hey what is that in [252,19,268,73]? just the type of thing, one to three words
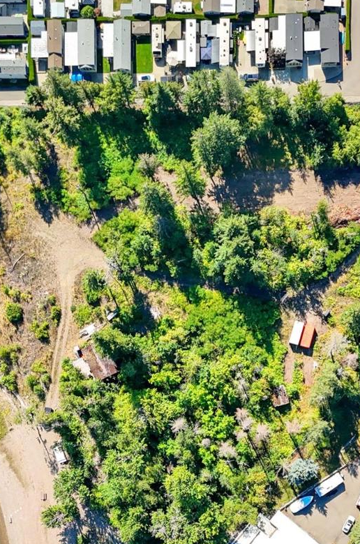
camper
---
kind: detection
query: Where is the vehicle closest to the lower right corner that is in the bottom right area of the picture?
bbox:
[340,513,356,533]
